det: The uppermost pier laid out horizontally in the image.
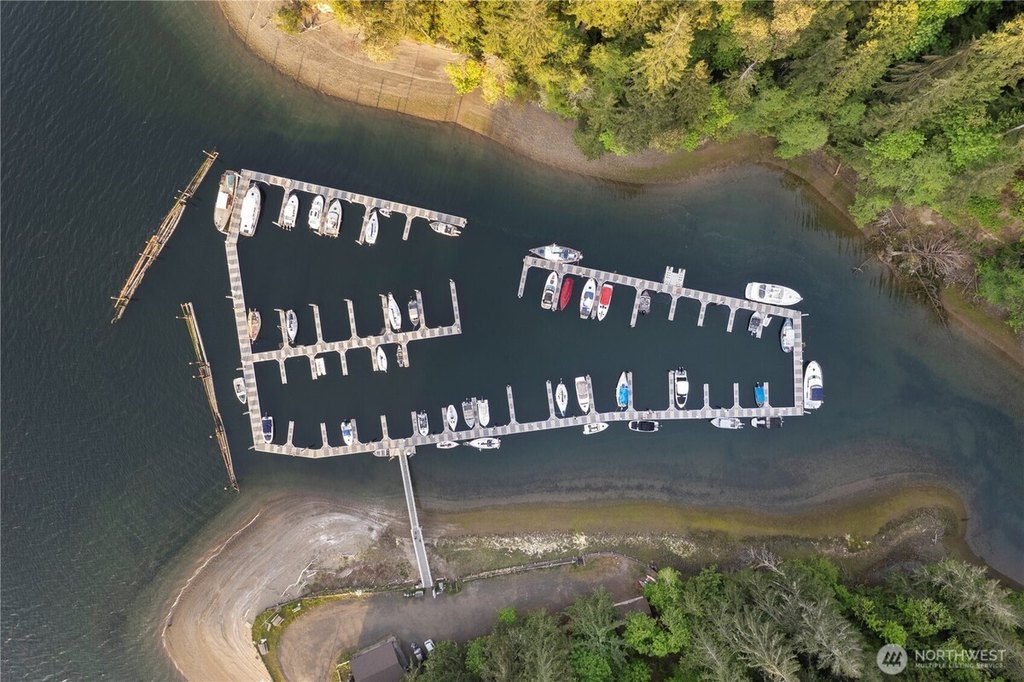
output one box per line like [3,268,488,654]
[246,170,467,246]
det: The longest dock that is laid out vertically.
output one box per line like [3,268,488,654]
[227,168,265,444]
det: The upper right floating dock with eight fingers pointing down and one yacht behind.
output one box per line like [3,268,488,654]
[517,256,803,340]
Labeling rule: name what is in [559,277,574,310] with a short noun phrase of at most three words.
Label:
boat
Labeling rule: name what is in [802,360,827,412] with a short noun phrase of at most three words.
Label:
boat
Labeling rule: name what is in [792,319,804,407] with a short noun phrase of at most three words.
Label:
pier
